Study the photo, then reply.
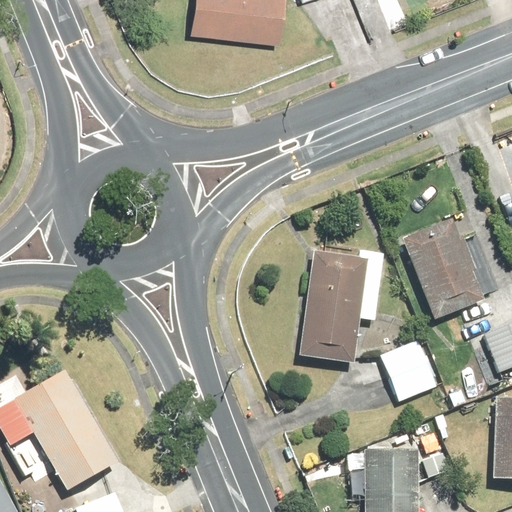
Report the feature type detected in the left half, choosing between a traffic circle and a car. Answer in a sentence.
The one visible in the left half is a traffic circle.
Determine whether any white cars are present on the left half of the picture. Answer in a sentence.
No, no white car appears on the left half of the picture.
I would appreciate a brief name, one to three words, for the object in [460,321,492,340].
car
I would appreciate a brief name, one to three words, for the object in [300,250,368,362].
house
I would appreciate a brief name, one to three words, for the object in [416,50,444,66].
car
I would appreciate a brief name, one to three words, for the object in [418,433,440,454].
gazebo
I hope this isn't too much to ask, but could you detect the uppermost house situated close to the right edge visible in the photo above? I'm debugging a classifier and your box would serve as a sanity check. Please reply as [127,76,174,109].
[404,218,496,318]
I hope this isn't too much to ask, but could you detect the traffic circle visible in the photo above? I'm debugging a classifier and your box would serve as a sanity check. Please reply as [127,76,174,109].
[52,143,197,281]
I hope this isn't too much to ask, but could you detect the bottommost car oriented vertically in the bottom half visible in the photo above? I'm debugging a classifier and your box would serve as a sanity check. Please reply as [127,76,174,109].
[462,366,479,398]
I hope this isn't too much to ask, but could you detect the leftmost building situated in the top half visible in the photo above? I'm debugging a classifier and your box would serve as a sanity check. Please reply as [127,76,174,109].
[190,0,289,46]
